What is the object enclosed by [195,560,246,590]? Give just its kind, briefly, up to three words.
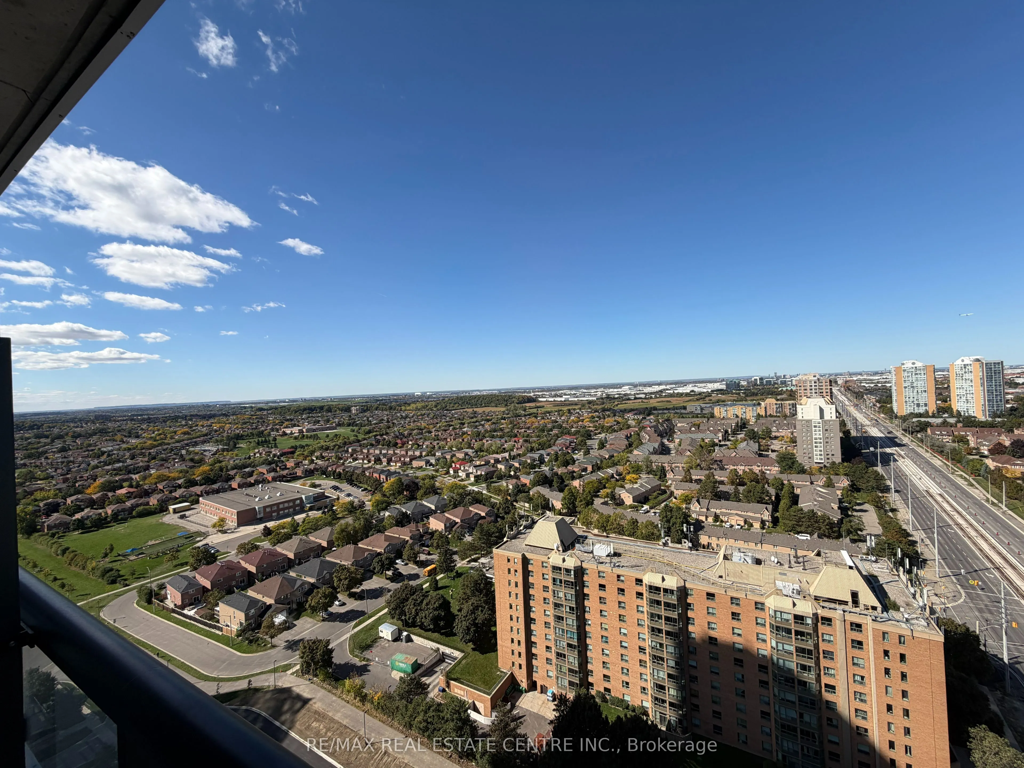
house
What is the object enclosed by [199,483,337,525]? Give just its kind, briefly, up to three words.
building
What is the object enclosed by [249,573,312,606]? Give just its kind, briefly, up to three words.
house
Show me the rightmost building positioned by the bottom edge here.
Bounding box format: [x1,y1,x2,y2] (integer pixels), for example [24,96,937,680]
[490,502,952,768]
